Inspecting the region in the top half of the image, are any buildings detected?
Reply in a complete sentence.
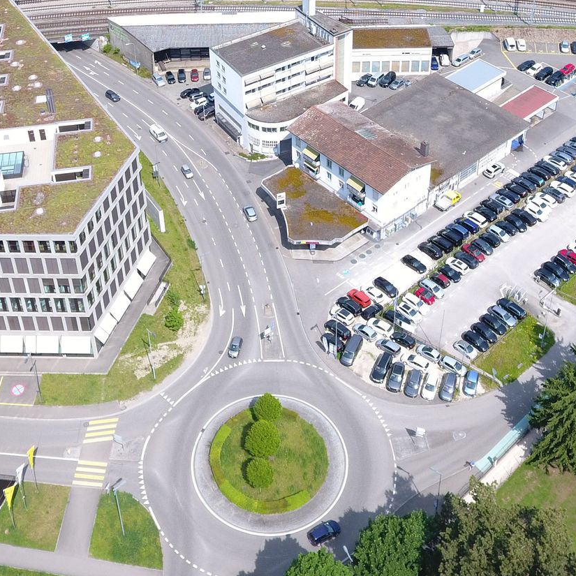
Yes, I can see a building in the top half of the image.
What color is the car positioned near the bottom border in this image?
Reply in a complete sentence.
The car positioned near the bottom border looks blue in the image.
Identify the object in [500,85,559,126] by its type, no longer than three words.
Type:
shed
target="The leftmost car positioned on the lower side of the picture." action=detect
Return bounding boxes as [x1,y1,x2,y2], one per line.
[228,336,243,359]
